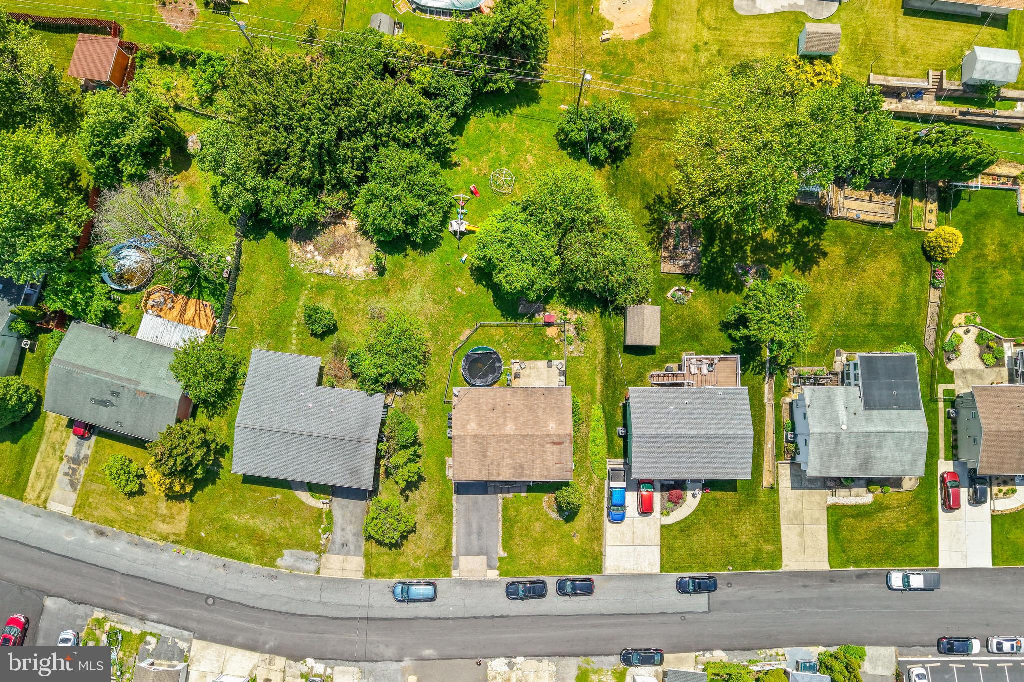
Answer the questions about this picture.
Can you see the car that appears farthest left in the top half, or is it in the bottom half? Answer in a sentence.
It is in the bottom half that the car that appears farthest left appears.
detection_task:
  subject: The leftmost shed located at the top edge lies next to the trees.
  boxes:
[69,33,136,90]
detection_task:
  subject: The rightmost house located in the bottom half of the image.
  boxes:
[956,385,1024,476]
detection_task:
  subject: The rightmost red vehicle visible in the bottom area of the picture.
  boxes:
[938,469,964,511]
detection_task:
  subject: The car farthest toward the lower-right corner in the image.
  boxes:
[985,634,1024,657]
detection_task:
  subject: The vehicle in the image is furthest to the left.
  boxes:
[0,608,31,655]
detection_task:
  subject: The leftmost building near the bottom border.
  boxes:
[132,648,199,682]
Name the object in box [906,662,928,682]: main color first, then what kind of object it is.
white car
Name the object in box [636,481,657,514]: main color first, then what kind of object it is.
red car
